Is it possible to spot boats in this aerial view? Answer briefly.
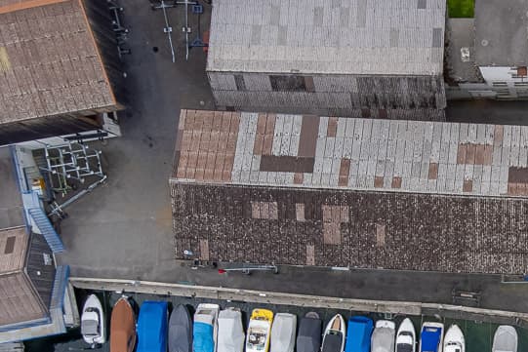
Yes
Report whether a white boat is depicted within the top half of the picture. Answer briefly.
No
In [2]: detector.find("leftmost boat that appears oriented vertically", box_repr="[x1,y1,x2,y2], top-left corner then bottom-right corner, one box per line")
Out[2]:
[81,294,109,350]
